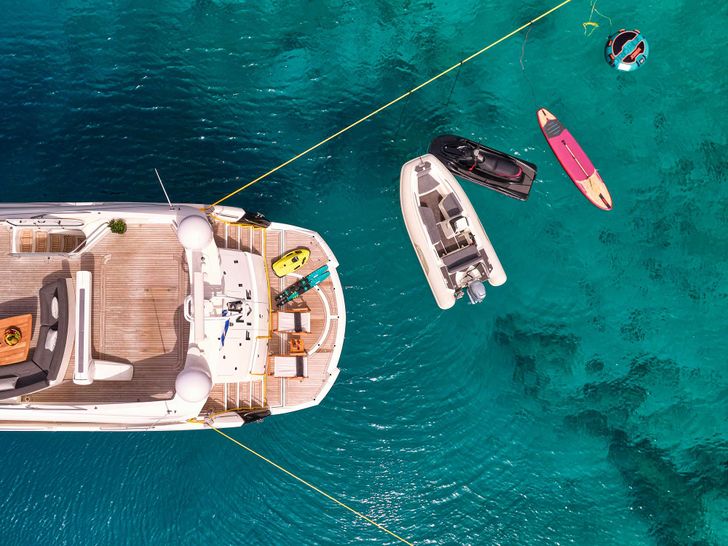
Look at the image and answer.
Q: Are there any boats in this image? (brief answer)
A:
Yes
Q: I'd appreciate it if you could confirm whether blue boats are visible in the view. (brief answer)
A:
No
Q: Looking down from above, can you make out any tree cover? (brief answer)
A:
No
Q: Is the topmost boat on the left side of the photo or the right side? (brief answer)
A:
right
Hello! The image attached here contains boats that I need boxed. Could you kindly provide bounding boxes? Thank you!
[400,153,506,306]
[0,169,346,432]
[427,134,537,203]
